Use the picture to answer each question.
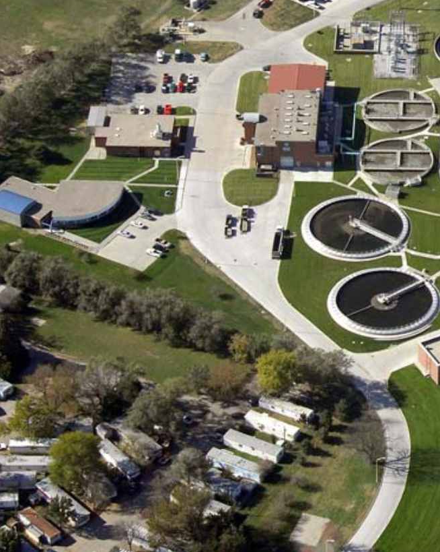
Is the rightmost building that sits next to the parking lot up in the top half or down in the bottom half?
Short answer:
top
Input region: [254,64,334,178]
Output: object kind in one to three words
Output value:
building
